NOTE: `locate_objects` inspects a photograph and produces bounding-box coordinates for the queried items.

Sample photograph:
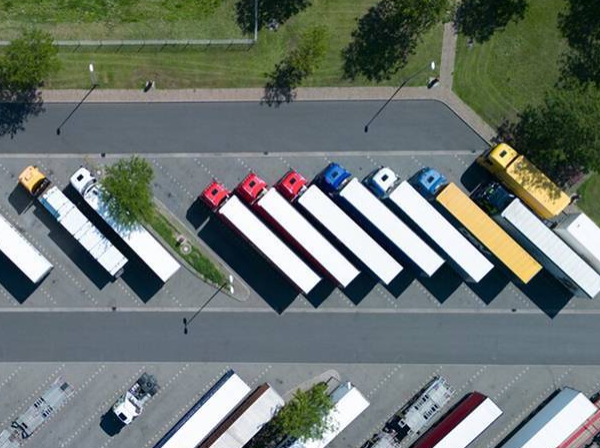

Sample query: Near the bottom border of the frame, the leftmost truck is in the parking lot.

[109,376,157,427]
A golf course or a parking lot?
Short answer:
parking lot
